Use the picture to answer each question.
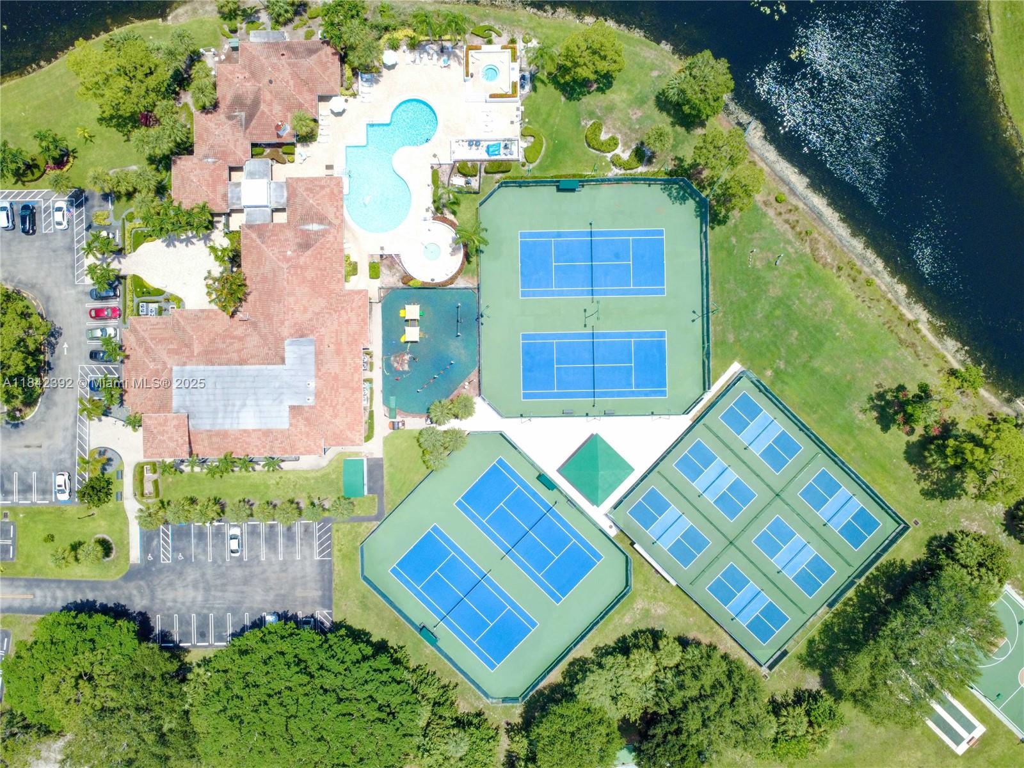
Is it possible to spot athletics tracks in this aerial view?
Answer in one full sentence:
No, the picture doesn't show any athletics track.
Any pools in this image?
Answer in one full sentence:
Yes, you can see a pool in this photo.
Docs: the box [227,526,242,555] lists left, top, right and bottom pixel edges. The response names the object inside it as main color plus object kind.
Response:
white car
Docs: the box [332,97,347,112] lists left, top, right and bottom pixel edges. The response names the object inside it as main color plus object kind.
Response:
white umbrella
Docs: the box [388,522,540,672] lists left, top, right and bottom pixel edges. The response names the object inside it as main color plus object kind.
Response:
blue tennis court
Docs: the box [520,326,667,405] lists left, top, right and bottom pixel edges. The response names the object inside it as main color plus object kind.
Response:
blue tennis court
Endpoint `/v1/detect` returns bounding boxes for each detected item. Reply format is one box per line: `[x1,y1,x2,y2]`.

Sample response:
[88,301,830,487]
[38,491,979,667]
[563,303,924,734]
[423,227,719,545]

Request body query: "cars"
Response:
[55,472,71,501]
[53,201,70,230]
[227,526,242,555]
[86,326,118,340]
[0,201,16,232]
[302,616,315,646]
[87,378,117,391]
[88,350,117,361]
[19,205,37,234]
[90,306,122,320]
